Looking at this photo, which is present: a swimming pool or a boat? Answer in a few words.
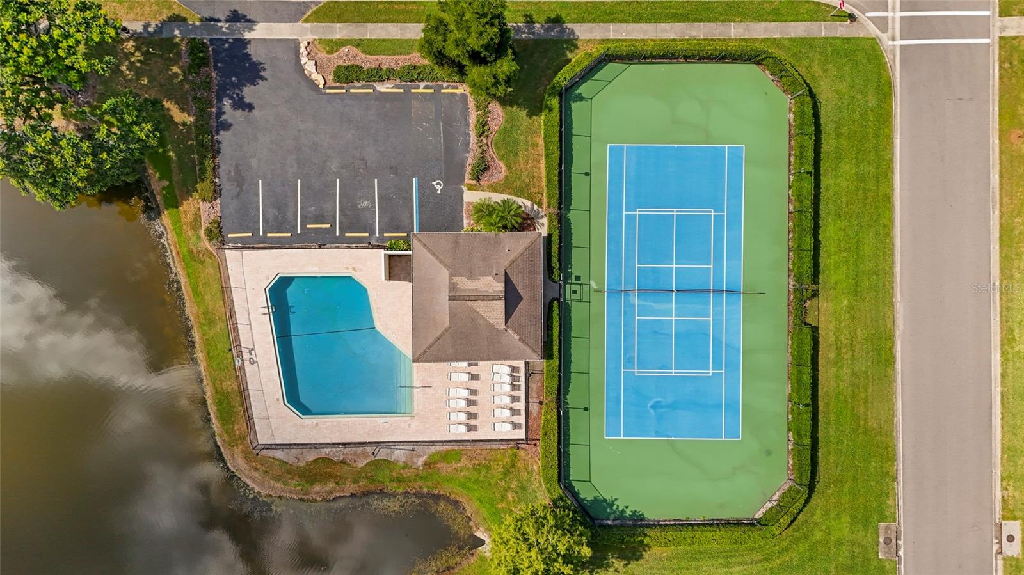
swimming pool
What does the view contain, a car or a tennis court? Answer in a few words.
tennis court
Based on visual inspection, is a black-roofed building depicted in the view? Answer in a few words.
No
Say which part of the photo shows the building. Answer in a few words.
center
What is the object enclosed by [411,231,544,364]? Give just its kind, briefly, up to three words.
building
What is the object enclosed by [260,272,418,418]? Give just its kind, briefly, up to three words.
swimming pool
